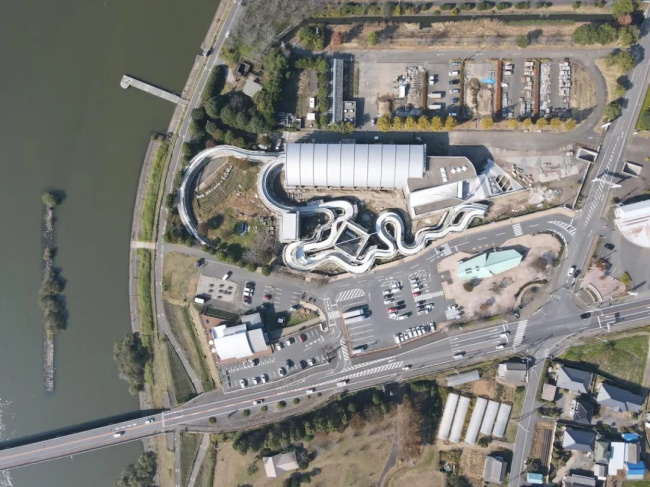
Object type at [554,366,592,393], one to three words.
house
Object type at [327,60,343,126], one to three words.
shed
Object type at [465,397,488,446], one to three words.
greenhouse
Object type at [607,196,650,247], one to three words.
building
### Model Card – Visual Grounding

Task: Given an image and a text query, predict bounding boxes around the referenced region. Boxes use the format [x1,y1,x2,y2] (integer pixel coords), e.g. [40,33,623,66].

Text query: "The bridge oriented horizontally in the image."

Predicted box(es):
[0,411,163,469]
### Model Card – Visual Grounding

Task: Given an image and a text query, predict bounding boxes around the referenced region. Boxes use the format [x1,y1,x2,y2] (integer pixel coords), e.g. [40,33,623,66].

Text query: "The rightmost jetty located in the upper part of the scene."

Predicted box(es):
[121,75,187,105]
